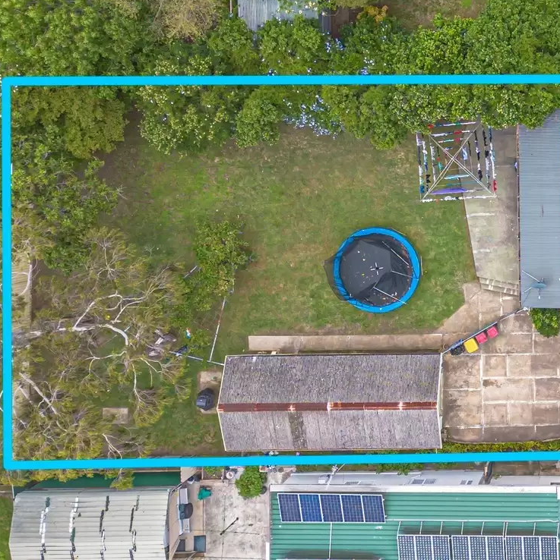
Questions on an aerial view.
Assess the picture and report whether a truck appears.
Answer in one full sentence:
No, the frame has no truck in it.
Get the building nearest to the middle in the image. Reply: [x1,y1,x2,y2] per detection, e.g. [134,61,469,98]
[215,350,448,452]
